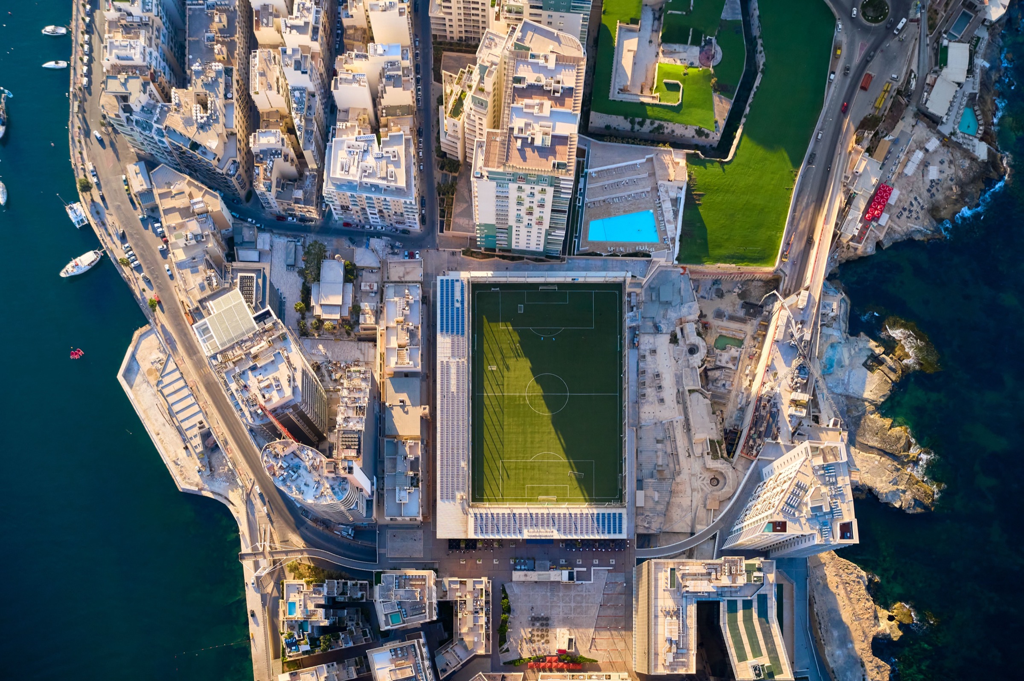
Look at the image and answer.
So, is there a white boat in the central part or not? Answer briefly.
No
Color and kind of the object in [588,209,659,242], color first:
blue swimming pool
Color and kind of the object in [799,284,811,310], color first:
white vehicle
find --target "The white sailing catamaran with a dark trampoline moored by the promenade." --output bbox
[54,192,90,230]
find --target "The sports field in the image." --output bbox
[472,283,623,504]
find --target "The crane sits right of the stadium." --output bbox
[767,324,845,424]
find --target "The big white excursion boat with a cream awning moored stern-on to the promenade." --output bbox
[56,242,103,276]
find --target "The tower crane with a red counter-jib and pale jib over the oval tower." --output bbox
[251,396,354,522]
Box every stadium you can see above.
[470,282,628,538]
